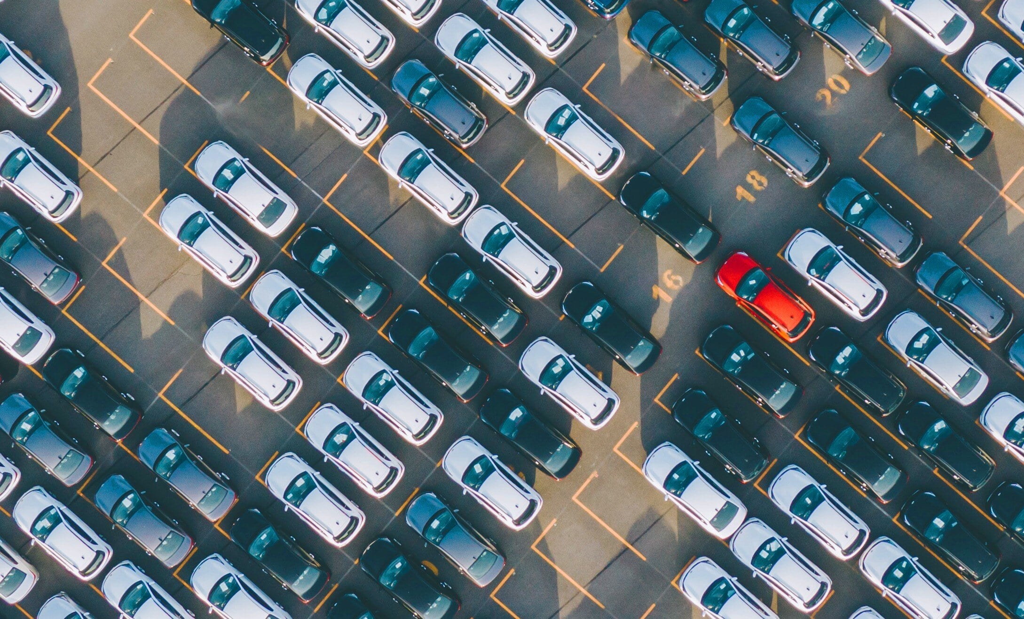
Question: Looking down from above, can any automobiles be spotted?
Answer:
Yes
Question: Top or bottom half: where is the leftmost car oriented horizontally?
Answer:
bottom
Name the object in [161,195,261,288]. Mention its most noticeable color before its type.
white car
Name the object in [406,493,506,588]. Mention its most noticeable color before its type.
blue car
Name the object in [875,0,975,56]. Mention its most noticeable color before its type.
white car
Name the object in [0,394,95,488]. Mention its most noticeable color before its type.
blue car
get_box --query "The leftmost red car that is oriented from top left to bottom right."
[714,251,816,344]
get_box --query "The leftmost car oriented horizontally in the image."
[39,592,100,619]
